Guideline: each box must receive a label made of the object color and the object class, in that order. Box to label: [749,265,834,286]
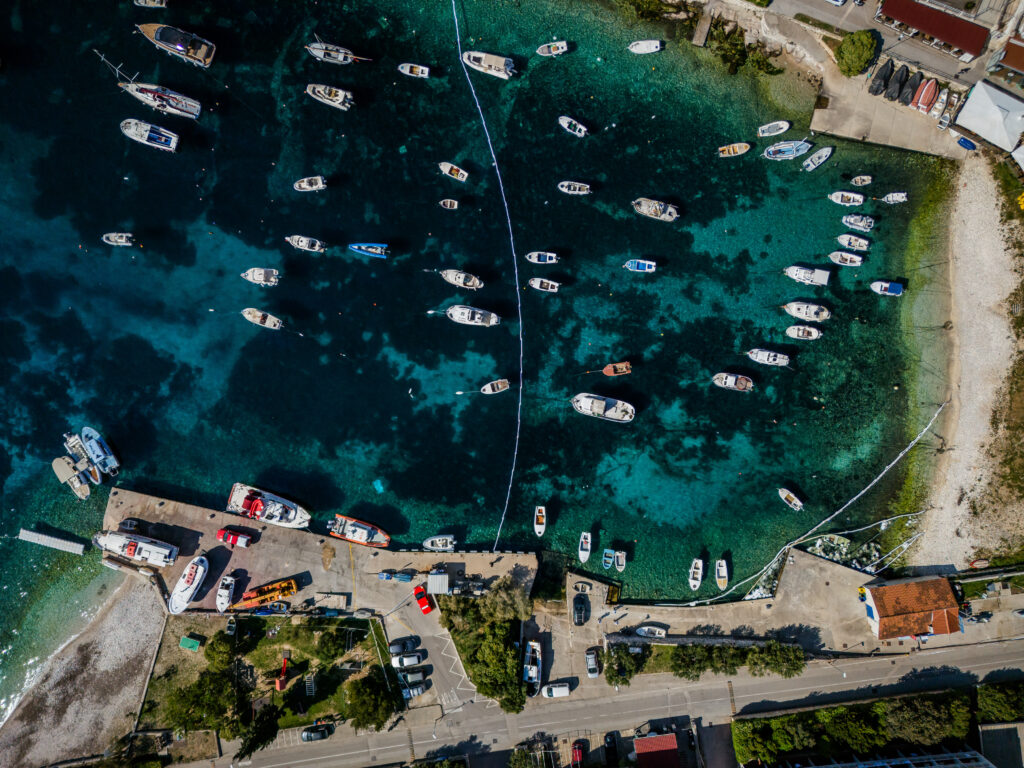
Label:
white boat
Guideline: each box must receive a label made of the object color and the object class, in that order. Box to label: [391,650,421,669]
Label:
white car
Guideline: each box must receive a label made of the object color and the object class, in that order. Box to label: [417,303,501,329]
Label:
white boat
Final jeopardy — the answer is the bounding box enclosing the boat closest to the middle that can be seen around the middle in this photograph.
[481,377,510,393]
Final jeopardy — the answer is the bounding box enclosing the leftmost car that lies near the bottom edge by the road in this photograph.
[301,722,331,742]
